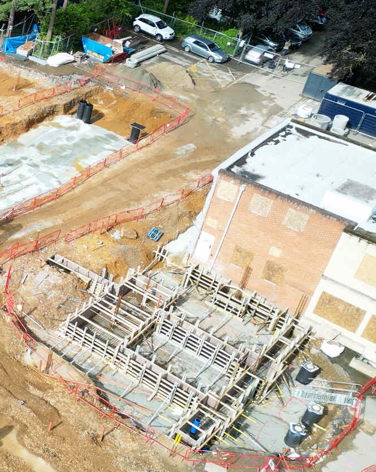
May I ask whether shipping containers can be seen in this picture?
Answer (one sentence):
Yes, I can see a shipping container in this picture.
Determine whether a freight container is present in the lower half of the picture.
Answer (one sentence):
No, no freight container can be made out in the lower half of the picture.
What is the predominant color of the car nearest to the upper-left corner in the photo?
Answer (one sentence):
The car nearest to the upper-left corner looks white in the image.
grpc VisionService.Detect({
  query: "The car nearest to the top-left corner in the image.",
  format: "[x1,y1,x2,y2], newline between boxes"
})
[132,13,179,41]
